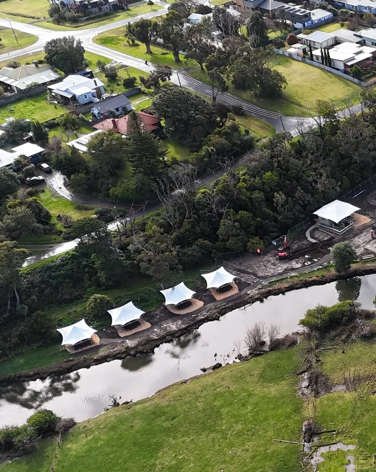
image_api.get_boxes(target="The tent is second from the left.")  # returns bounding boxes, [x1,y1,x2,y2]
[99,300,152,334]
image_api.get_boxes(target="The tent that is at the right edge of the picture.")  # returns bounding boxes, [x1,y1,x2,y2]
[309,200,367,235]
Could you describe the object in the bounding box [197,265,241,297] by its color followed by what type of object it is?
white tent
